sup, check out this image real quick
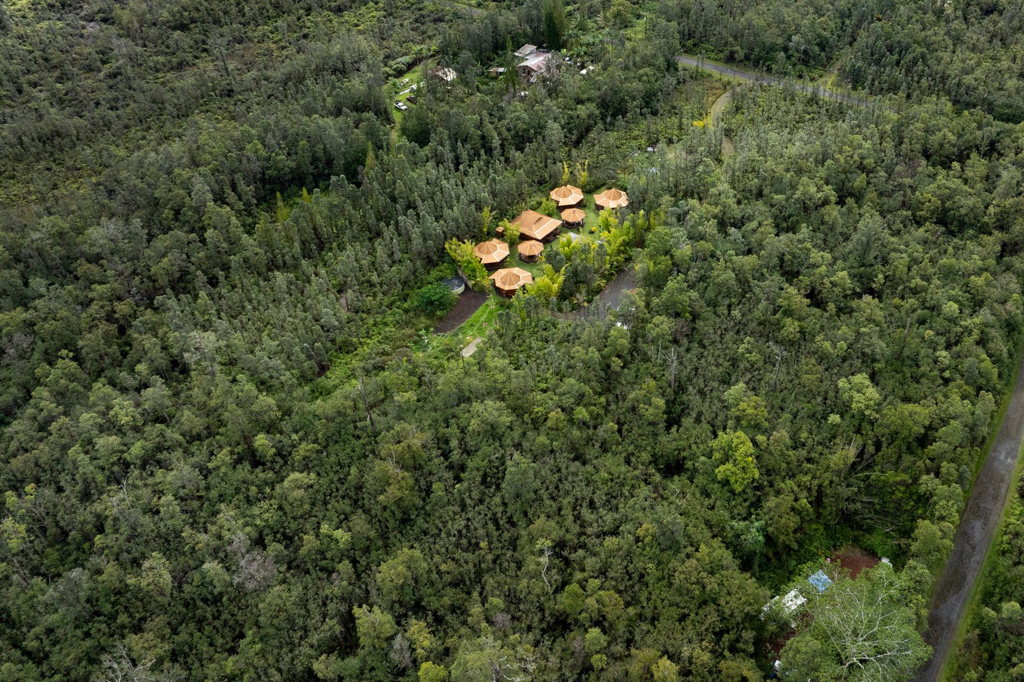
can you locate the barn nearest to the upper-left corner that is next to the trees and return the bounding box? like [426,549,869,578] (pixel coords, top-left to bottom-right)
[428,66,457,85]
